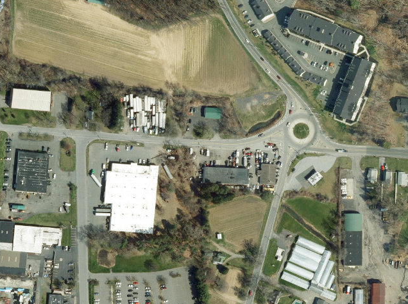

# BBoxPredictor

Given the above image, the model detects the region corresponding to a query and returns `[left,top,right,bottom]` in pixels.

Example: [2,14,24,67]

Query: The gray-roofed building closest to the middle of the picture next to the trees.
[202,167,250,184]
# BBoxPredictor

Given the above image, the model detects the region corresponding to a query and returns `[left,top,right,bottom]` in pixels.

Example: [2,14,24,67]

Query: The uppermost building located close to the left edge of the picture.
[11,88,51,111]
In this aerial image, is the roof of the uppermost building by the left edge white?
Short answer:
Yes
